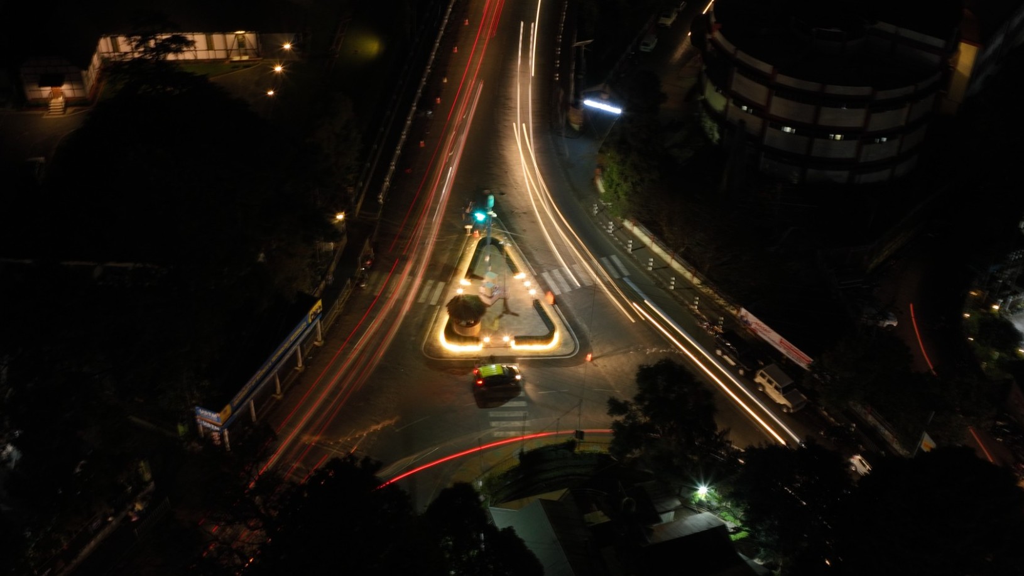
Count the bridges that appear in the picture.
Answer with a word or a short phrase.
0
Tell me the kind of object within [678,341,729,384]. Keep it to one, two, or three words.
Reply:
car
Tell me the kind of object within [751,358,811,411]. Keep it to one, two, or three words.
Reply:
car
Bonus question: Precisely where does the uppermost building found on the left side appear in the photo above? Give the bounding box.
[102,5,314,62]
